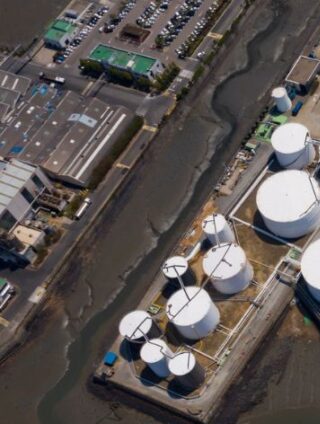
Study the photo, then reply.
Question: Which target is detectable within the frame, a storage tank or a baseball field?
storage tank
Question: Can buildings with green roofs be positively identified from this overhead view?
Yes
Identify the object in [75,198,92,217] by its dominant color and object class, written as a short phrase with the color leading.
white vehicle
